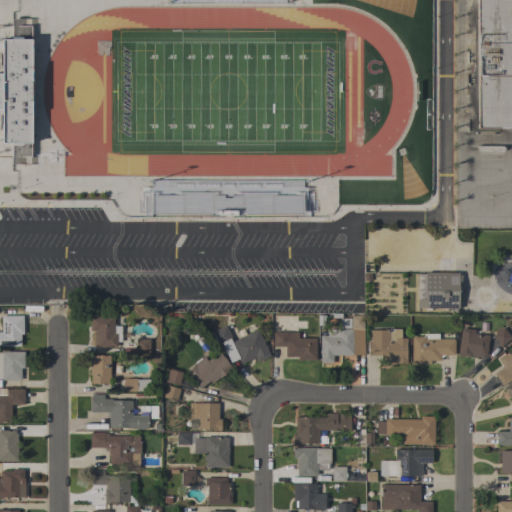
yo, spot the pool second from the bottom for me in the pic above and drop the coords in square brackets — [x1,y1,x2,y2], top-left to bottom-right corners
[142,453,162,468]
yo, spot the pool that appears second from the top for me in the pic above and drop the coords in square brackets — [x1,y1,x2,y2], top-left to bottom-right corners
[126,362,153,378]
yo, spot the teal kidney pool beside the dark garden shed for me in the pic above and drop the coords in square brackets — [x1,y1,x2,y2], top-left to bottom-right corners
[122,319,158,347]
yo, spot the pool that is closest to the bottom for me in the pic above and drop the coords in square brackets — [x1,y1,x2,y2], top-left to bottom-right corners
[182,485,207,505]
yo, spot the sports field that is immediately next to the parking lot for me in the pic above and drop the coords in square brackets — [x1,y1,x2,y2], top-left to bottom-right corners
[112,29,346,154]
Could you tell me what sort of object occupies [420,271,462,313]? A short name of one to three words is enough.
building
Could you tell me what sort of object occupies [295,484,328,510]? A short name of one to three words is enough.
house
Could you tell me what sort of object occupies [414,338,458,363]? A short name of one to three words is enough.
house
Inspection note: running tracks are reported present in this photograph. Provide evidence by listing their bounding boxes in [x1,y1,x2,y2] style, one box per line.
[42,6,418,178]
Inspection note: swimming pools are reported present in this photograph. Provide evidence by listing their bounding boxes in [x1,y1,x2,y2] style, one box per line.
[182,485,207,505]
[142,453,162,468]
[126,362,153,378]
[122,319,158,347]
